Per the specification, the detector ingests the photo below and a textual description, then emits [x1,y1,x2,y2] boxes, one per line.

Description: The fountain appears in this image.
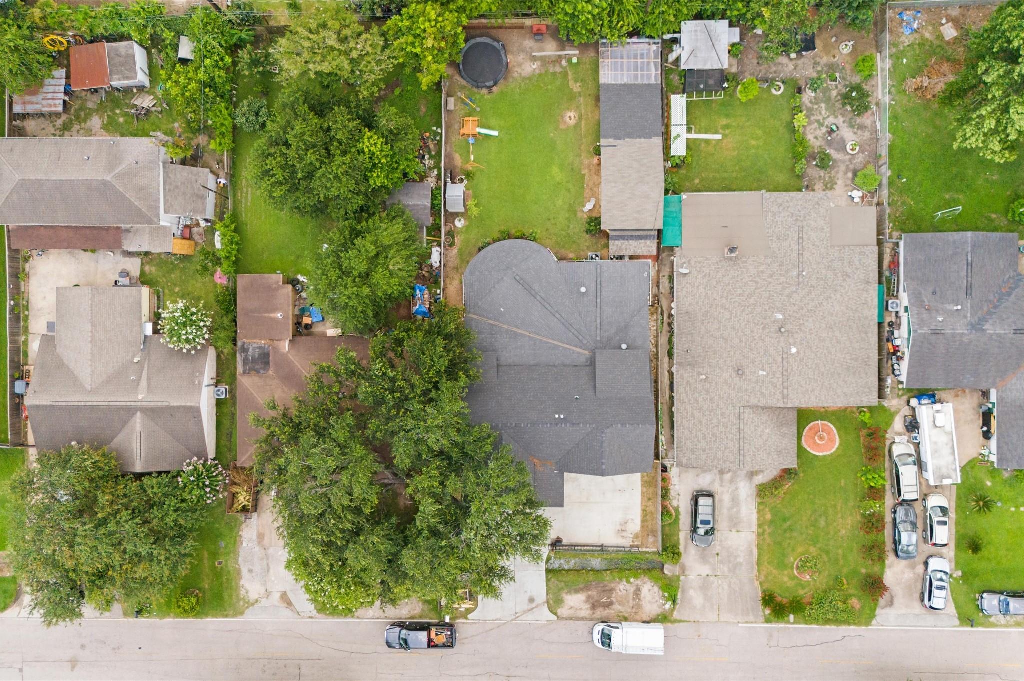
[803,420,840,457]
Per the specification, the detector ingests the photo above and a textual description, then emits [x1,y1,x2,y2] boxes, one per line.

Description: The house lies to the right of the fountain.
[896,232,1024,469]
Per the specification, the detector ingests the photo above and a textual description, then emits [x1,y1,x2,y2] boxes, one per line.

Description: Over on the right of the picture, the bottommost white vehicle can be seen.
[592,618,667,656]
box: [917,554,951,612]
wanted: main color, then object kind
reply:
white car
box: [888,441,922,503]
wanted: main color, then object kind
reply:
white car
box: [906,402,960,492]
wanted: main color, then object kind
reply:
white trailer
